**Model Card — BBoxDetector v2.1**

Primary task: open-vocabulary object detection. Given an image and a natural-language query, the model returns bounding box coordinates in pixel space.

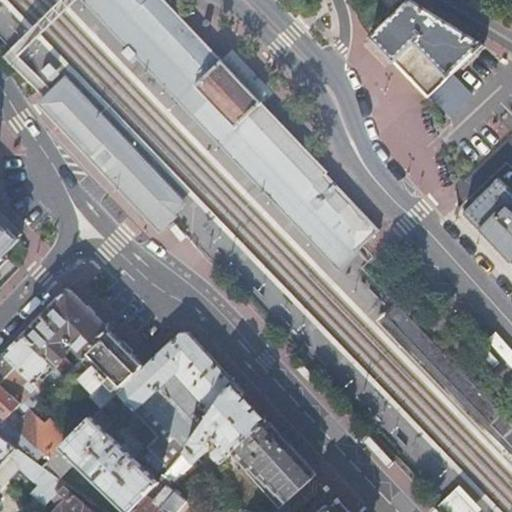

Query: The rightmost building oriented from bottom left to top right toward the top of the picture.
[464,177,508,226]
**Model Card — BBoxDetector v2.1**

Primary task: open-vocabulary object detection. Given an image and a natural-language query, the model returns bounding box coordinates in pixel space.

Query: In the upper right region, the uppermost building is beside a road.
[366,0,485,98]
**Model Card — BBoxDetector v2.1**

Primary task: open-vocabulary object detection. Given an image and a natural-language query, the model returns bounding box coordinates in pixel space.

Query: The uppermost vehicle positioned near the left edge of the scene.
[24,119,42,138]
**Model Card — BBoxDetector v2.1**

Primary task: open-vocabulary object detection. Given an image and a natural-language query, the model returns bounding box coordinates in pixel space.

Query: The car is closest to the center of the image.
[148,241,166,258]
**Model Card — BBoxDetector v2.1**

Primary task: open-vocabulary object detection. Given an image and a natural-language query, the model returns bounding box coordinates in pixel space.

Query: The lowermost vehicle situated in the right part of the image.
[488,336,512,368]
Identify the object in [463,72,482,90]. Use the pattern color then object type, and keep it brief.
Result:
white car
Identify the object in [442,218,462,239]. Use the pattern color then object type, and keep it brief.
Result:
gray car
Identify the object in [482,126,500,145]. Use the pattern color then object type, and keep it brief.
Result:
white car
